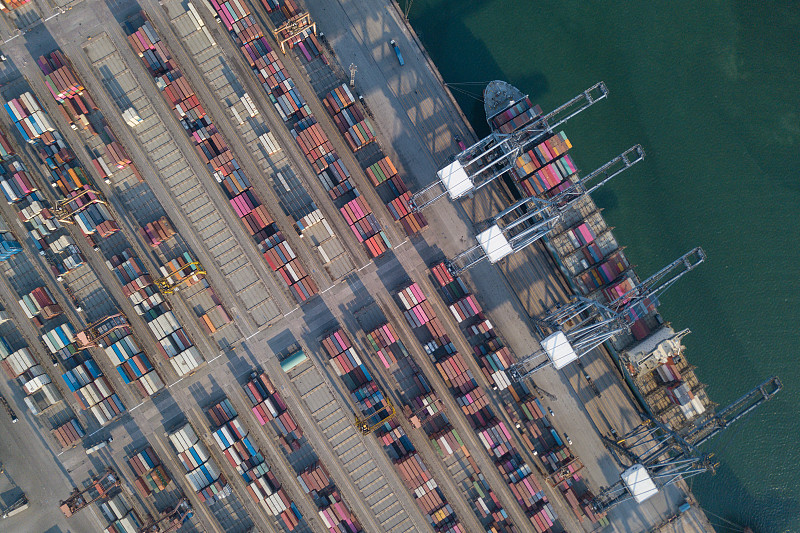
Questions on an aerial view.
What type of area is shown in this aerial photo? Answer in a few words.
port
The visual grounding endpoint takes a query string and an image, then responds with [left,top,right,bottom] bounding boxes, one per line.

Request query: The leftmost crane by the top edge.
[273,10,319,55]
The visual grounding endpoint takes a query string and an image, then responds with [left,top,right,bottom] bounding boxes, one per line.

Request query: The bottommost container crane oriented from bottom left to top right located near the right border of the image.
[591,374,778,513]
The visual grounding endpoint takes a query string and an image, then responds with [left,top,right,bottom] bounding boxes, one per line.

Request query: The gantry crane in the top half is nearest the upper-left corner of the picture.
[52,186,112,226]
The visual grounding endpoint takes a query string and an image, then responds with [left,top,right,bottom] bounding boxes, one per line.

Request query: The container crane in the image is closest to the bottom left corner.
[56,467,122,520]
